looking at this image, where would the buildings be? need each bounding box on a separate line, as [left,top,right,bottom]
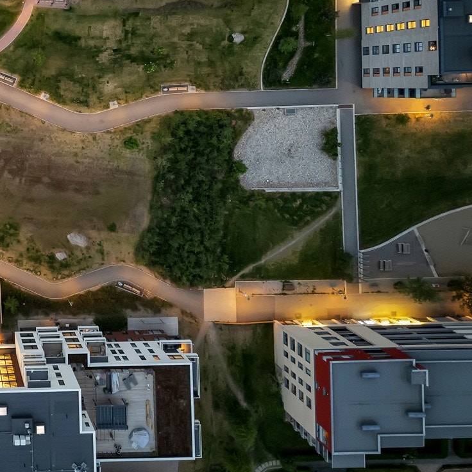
[0,323,201,472]
[275,319,472,468]
[359,0,472,101]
